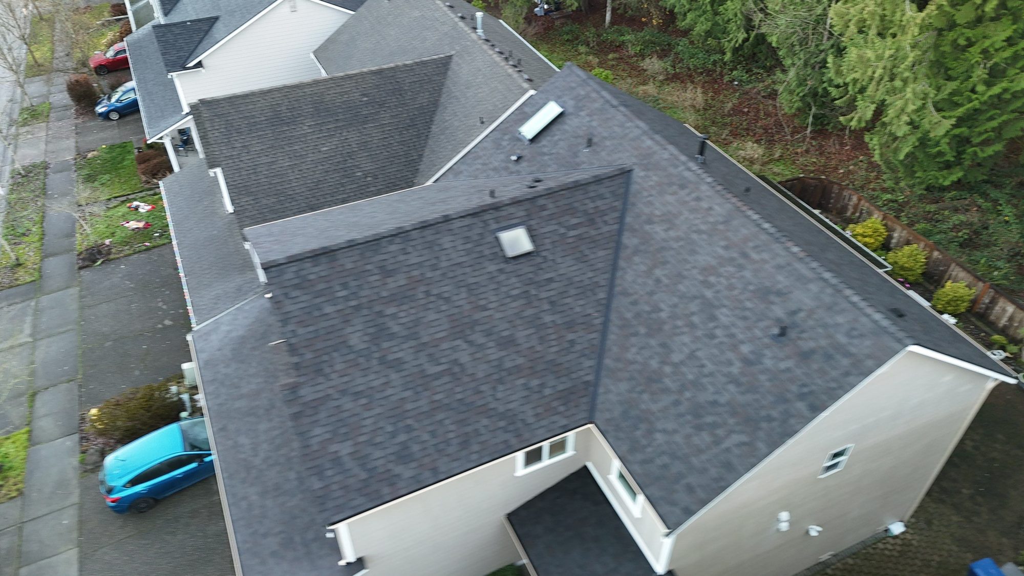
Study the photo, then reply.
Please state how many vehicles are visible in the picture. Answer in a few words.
3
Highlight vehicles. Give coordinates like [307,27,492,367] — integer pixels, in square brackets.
[91,77,138,121]
[77,36,132,76]
[92,413,212,519]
